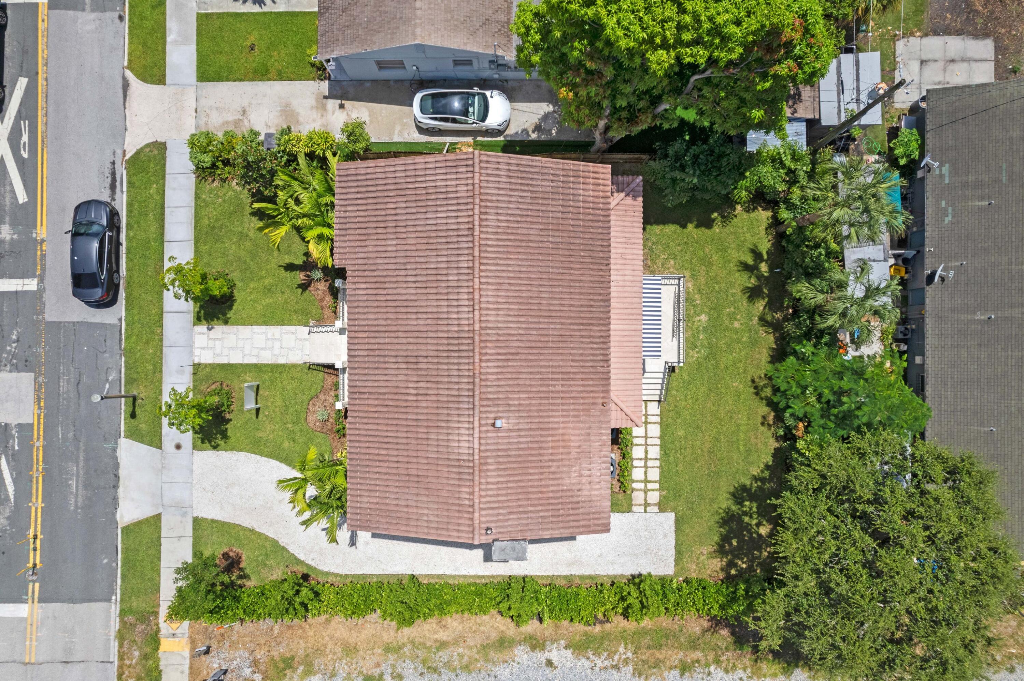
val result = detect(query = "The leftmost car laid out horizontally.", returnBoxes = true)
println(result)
[409,83,514,132]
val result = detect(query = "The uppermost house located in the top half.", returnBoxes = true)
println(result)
[317,0,518,81]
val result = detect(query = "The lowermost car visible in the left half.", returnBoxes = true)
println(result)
[67,198,122,303]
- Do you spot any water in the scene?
No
